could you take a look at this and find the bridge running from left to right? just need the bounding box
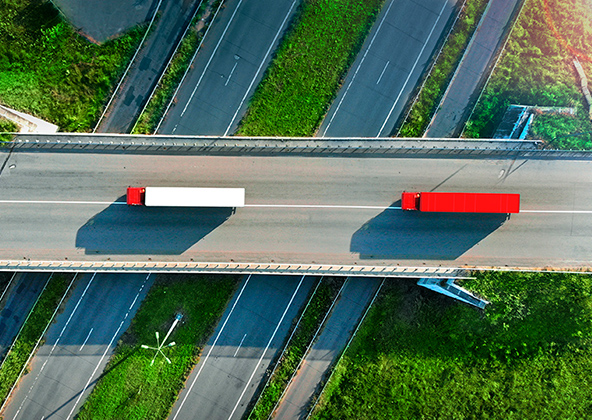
[0,101,576,311]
